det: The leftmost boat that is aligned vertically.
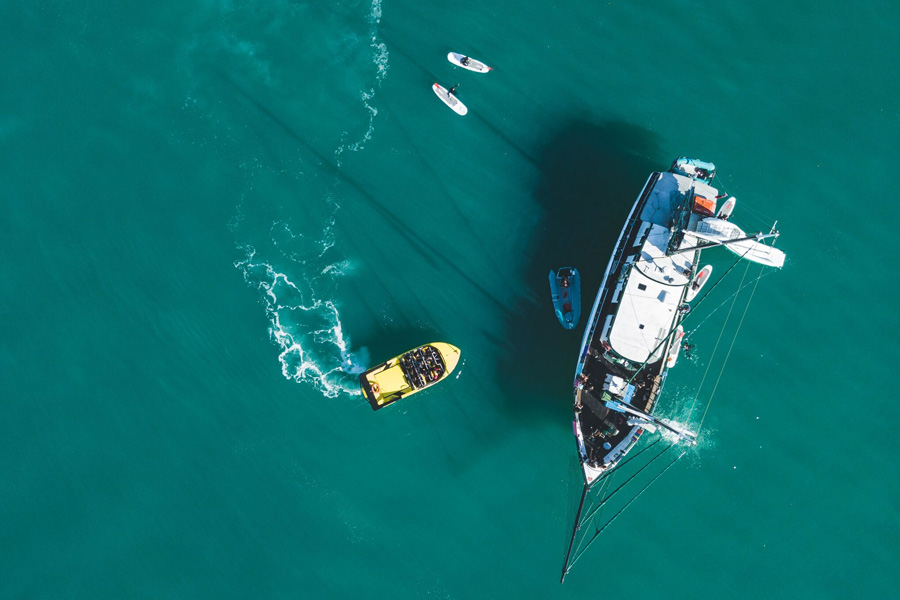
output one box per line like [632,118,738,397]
[549,264,581,330]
